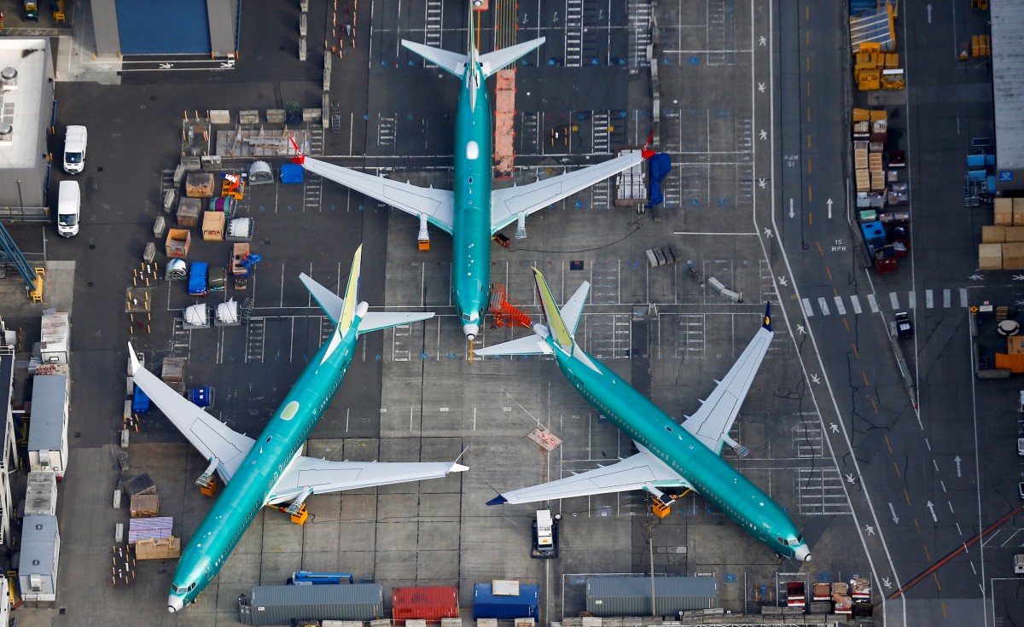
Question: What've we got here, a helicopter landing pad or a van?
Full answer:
Of the two, only a van appears.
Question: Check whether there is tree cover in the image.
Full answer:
No, tree cover can't be seen anywhere here.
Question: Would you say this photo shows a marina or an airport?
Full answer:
It's an airport.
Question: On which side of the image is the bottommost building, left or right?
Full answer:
You can find the bottommost building on the left side of the picture.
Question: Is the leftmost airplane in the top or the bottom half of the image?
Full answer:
The leftmost airplane sits in the bottom half of the picture.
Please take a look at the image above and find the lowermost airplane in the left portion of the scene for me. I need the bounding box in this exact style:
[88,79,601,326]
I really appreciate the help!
[126,248,468,611]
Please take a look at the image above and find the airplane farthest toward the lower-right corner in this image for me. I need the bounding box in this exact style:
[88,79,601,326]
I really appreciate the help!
[468,265,813,561]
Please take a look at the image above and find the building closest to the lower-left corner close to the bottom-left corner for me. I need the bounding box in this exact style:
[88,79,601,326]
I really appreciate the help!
[19,516,63,599]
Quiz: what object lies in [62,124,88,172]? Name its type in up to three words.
vehicle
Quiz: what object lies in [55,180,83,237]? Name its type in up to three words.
van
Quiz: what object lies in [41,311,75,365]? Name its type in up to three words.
building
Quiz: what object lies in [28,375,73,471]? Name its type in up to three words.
building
